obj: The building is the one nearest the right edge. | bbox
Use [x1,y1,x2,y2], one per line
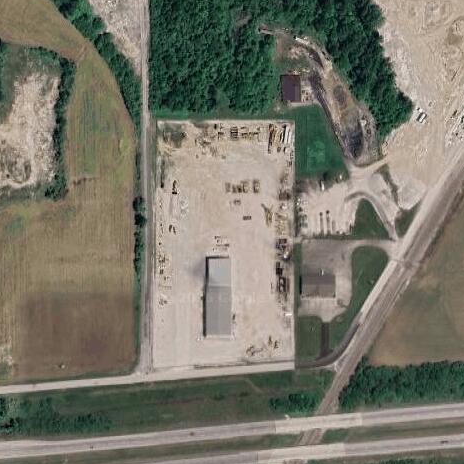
[302,269,336,298]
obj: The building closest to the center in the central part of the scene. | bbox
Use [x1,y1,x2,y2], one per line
[208,257,232,286]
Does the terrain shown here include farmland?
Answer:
Yes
